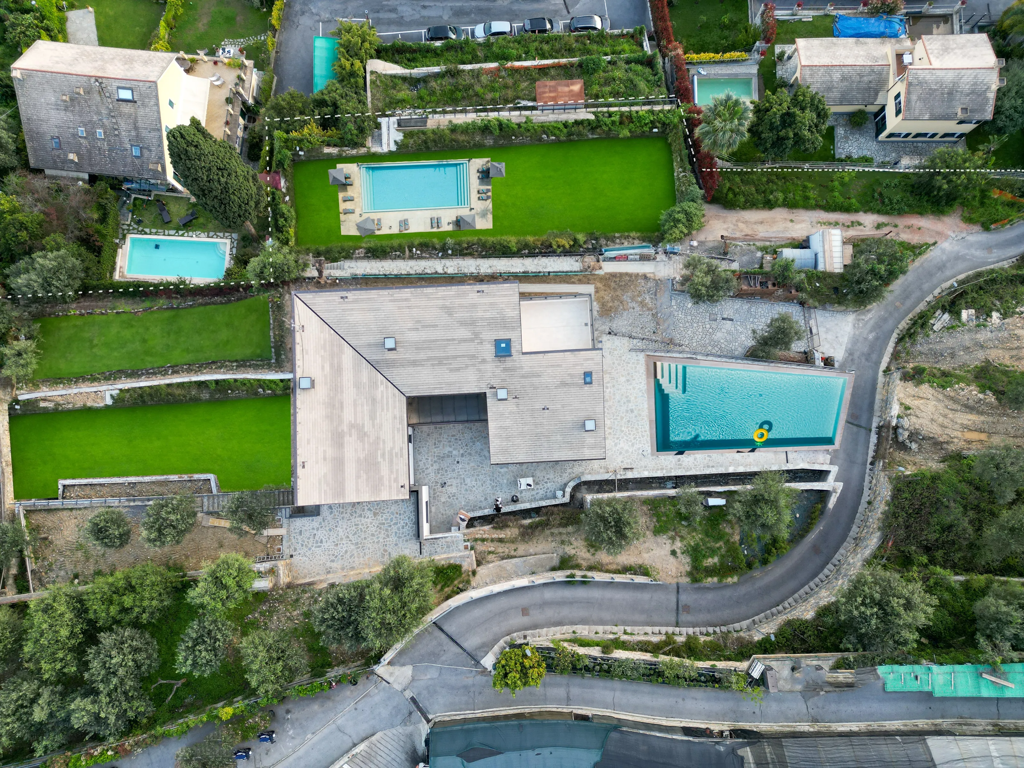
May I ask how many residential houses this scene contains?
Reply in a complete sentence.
In total, there are 3 residential houses in the scene.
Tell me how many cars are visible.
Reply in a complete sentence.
In total, there are 4 cars in the scene.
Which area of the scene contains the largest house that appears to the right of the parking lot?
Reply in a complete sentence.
The largest house that appears to the right of the parking lot sits in the top right section of the image.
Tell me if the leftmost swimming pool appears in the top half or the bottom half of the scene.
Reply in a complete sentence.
It is in the top half that the leftmost swimming pool appears.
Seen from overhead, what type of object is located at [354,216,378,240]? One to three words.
umbrella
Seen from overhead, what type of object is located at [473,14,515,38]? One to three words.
car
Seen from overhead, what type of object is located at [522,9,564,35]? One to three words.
car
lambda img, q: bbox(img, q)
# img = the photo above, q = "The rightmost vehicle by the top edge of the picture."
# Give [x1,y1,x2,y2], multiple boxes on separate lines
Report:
[568,7,612,32]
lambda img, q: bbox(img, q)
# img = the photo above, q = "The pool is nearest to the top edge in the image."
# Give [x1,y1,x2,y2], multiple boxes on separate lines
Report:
[690,72,757,113]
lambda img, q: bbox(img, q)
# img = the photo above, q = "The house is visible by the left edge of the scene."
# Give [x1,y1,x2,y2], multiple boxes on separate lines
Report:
[5,39,255,196]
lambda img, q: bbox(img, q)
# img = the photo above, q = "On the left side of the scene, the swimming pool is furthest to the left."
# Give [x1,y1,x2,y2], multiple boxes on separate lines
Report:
[122,234,231,282]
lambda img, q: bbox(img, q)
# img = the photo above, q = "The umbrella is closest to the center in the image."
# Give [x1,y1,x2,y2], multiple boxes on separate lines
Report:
[459,214,477,232]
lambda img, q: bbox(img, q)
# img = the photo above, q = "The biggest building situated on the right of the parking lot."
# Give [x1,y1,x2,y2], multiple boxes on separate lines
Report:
[786,32,1012,141]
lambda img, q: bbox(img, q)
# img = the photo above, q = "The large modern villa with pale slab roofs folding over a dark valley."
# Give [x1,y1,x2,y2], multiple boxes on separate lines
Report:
[281,281,605,539]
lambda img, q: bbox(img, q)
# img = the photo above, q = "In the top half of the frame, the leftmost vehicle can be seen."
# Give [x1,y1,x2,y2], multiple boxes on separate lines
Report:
[424,17,465,41]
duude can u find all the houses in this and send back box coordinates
[281,281,605,539]
[786,32,1012,141]
[5,39,255,196]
